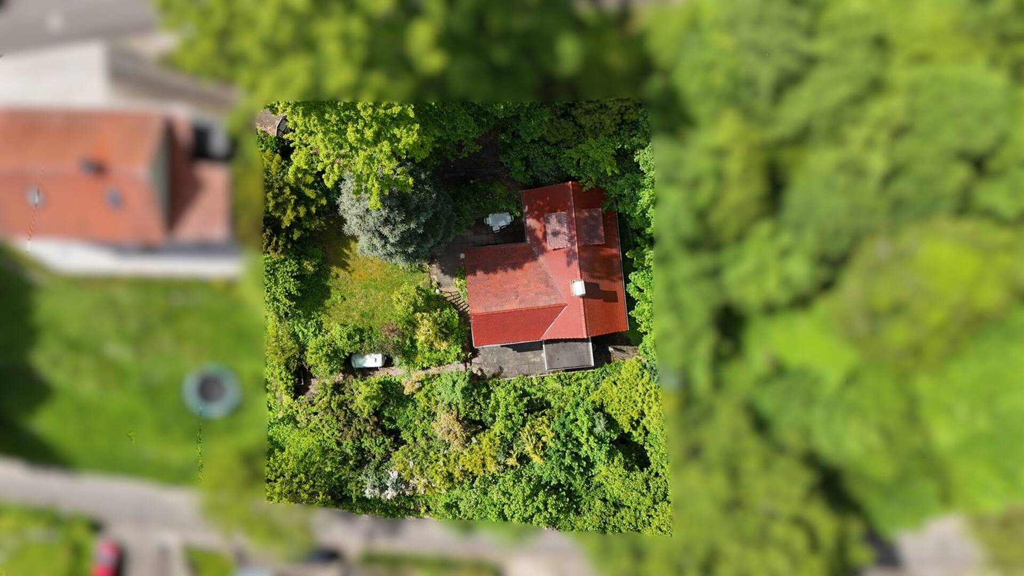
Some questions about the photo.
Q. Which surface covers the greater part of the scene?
trees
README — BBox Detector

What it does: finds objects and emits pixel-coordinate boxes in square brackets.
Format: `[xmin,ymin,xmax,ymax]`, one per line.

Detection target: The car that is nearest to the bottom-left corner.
[91,533,125,576]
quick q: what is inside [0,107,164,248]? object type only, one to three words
house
